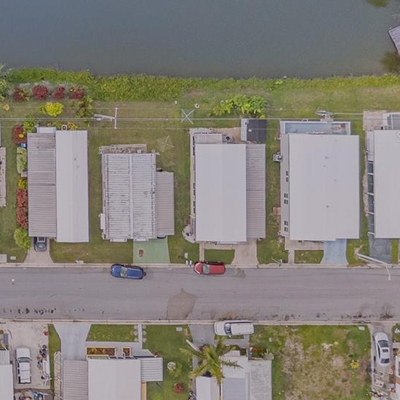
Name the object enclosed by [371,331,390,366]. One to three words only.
car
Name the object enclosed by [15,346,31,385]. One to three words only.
vehicle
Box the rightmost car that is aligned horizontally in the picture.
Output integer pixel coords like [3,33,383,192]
[213,320,253,337]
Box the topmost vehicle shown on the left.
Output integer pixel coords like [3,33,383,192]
[33,237,48,255]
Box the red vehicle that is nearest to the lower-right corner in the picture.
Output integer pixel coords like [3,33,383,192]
[193,260,225,276]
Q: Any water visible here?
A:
Yes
